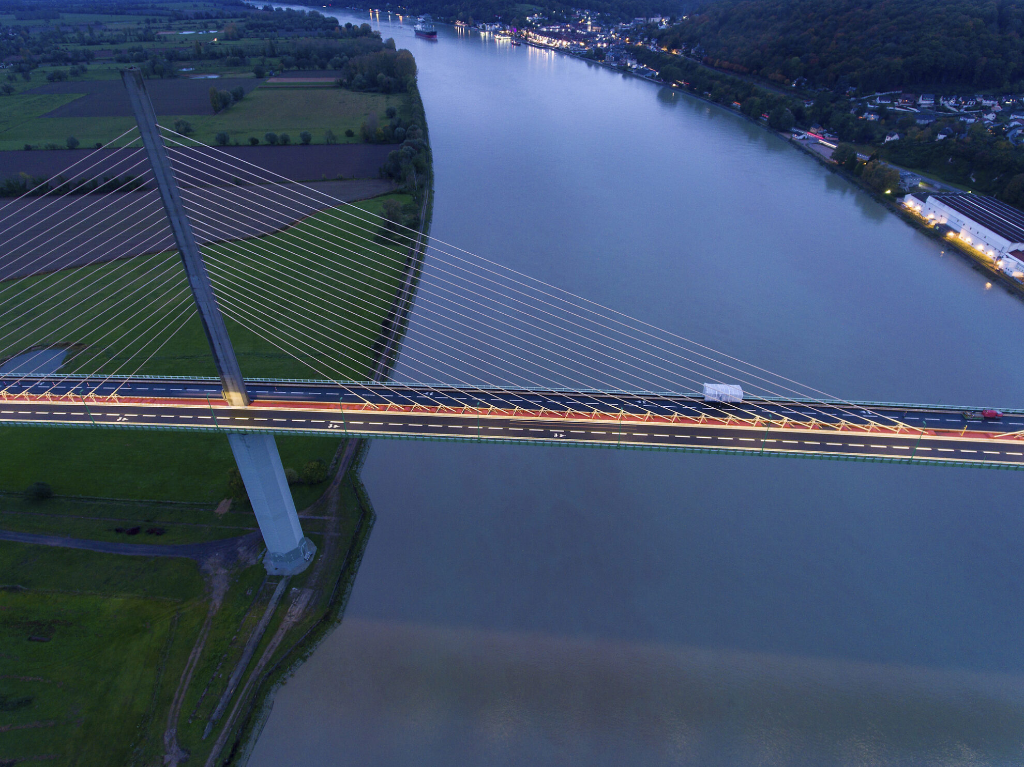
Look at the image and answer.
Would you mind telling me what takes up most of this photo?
water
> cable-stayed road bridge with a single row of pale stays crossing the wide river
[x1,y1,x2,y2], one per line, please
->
[0,68,1024,567]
